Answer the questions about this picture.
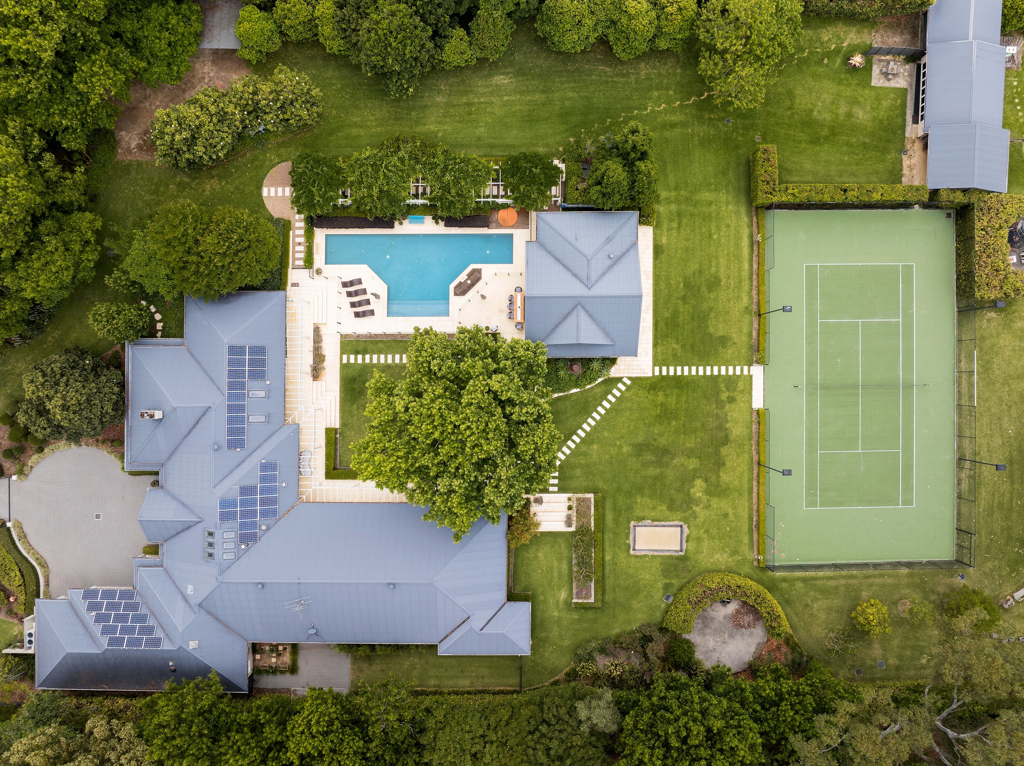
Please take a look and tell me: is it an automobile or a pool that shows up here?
pool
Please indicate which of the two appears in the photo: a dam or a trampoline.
trampoline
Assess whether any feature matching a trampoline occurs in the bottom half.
Yes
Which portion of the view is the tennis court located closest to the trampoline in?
right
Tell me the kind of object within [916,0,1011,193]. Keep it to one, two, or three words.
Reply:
building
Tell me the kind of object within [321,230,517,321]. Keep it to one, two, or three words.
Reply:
swimming pool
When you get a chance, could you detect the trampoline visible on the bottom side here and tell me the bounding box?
[632,523,685,554]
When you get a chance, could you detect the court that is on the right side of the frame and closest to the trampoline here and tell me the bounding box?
[765,209,957,566]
